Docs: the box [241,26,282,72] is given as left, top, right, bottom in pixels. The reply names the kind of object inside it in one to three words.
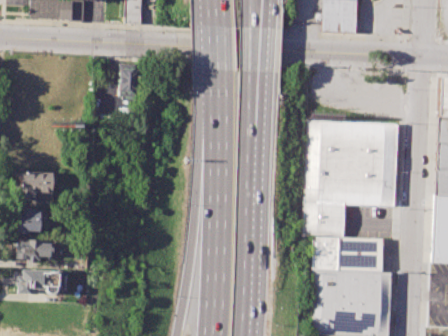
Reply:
overpass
